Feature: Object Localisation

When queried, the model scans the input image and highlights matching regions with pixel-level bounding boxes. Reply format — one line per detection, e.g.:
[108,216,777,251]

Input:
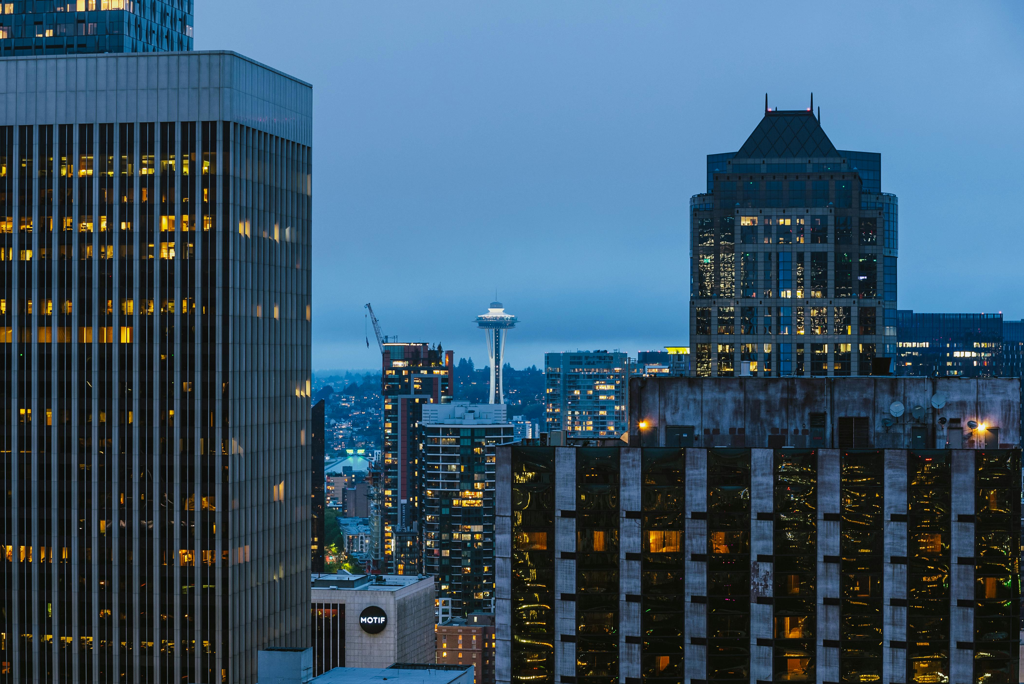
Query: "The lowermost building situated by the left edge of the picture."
[0,50,315,684]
